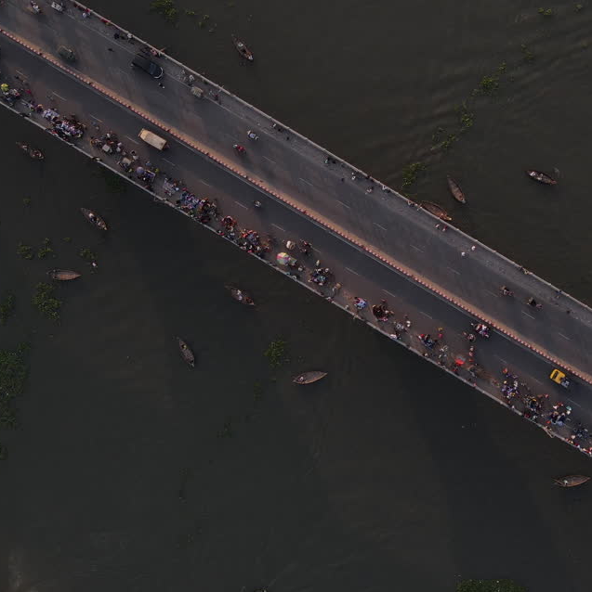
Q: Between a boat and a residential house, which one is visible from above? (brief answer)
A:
boat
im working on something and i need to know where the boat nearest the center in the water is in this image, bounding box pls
[222,284,255,306]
